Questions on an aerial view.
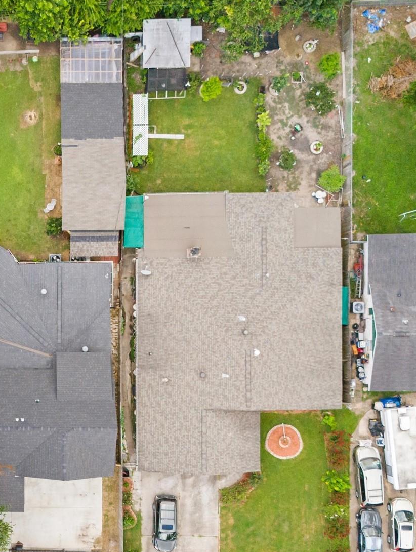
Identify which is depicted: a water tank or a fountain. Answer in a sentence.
Visible in the photo is a fountain.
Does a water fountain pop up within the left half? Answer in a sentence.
No, no water fountain appears within the left half.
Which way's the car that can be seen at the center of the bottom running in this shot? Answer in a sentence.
The car that can be seen at the center of the bottom is laid out up and down.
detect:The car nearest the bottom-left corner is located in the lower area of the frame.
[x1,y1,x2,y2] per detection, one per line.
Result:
[151,493,179,551]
